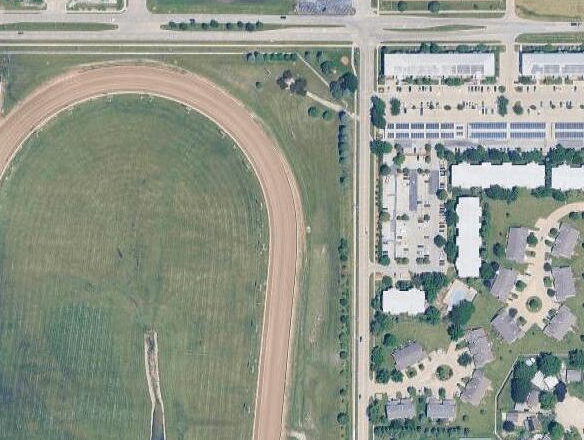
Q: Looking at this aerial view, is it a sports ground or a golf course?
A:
sports ground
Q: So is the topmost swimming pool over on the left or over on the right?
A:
right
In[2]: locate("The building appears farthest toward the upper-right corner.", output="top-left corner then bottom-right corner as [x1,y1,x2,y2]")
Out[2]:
[521,53,584,76]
